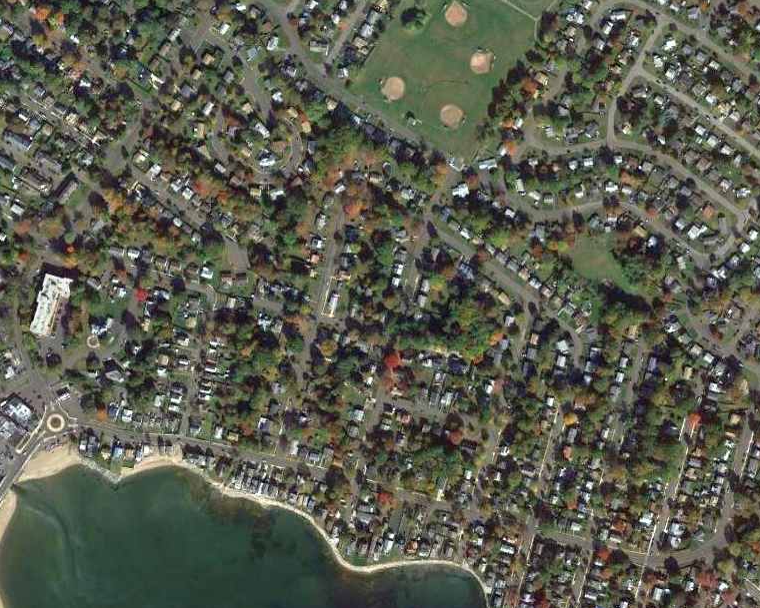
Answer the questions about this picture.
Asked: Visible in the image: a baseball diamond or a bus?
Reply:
baseball diamond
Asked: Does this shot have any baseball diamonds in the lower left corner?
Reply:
No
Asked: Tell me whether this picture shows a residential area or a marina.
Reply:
residential area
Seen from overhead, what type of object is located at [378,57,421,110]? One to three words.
baseball field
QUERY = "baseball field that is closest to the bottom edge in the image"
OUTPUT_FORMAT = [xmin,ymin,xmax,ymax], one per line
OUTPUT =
[420,88,471,132]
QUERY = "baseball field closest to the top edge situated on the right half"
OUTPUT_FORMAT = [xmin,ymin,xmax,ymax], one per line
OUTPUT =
[429,0,485,38]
